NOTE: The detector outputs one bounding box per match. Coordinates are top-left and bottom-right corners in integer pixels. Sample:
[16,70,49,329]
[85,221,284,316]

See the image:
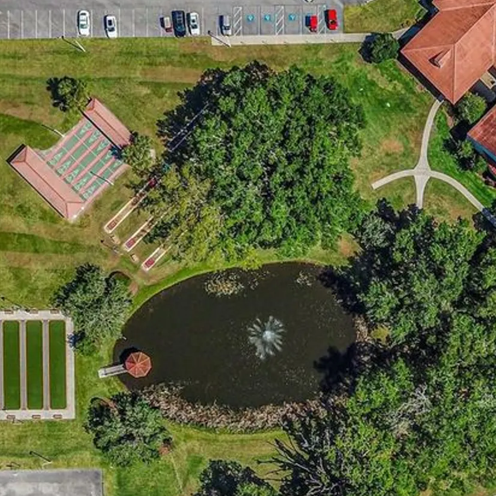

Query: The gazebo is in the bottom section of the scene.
[126,350,155,377]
